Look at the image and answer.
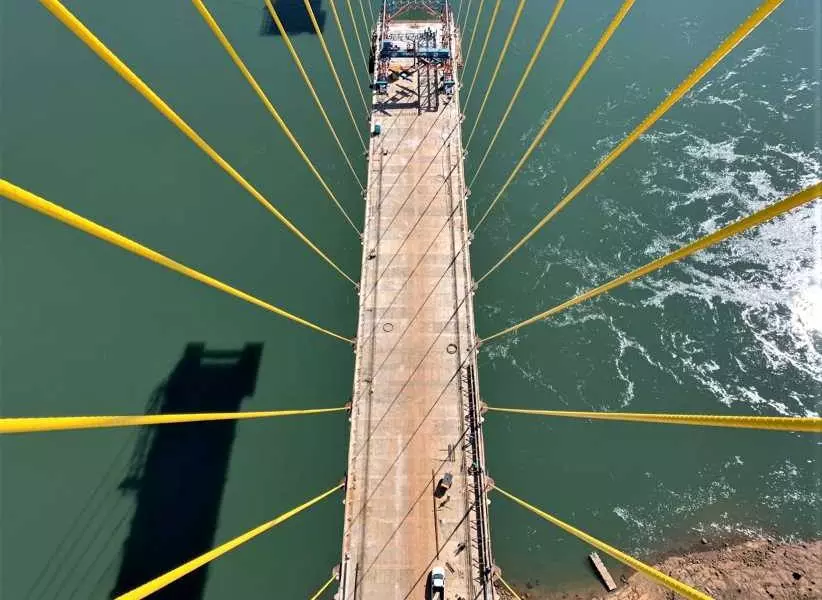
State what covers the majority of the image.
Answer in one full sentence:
The largest share of the image is taken up by water.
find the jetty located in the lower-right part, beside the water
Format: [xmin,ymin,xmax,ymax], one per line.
[589,552,616,590]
